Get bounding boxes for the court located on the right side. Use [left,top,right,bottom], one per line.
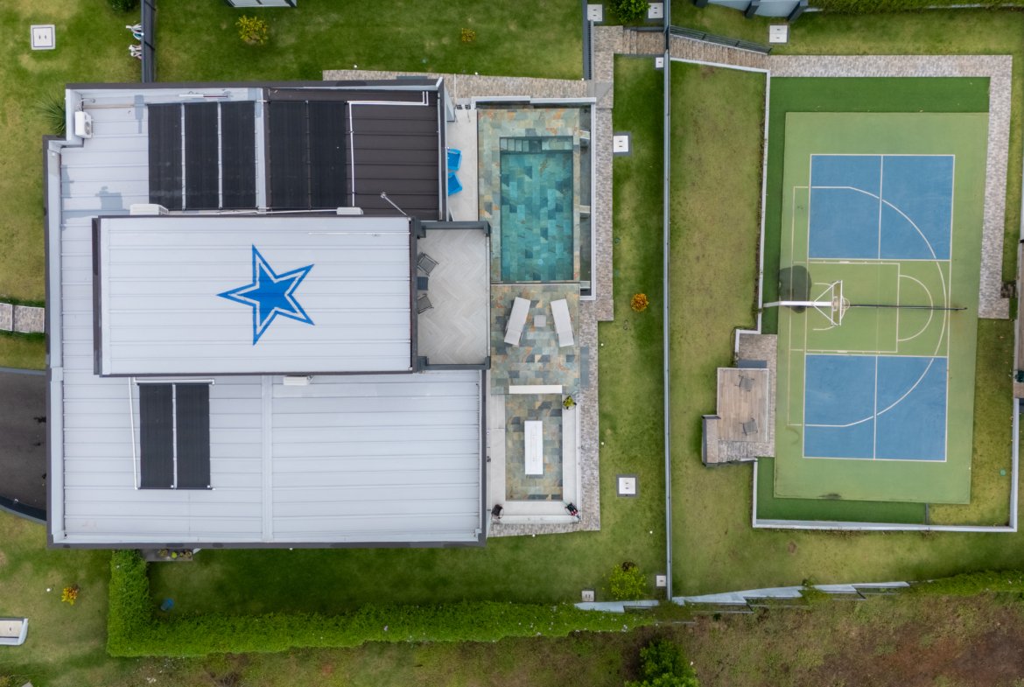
[774,112,989,504]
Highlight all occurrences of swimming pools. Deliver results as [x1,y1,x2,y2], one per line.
[471,97,595,302]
